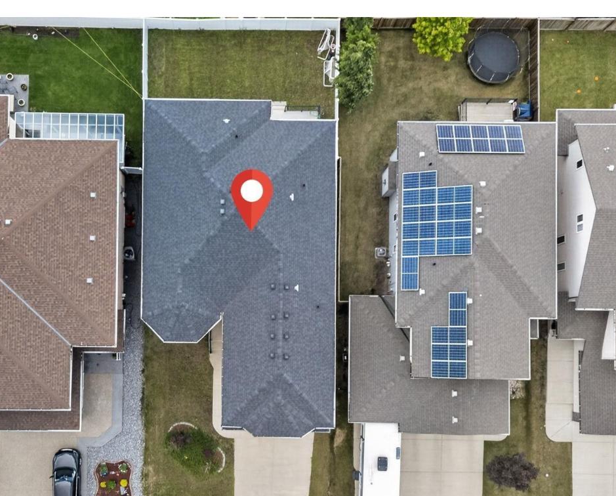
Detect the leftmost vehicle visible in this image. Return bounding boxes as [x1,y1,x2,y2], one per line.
[48,447,81,496]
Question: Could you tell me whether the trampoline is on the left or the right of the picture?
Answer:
right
